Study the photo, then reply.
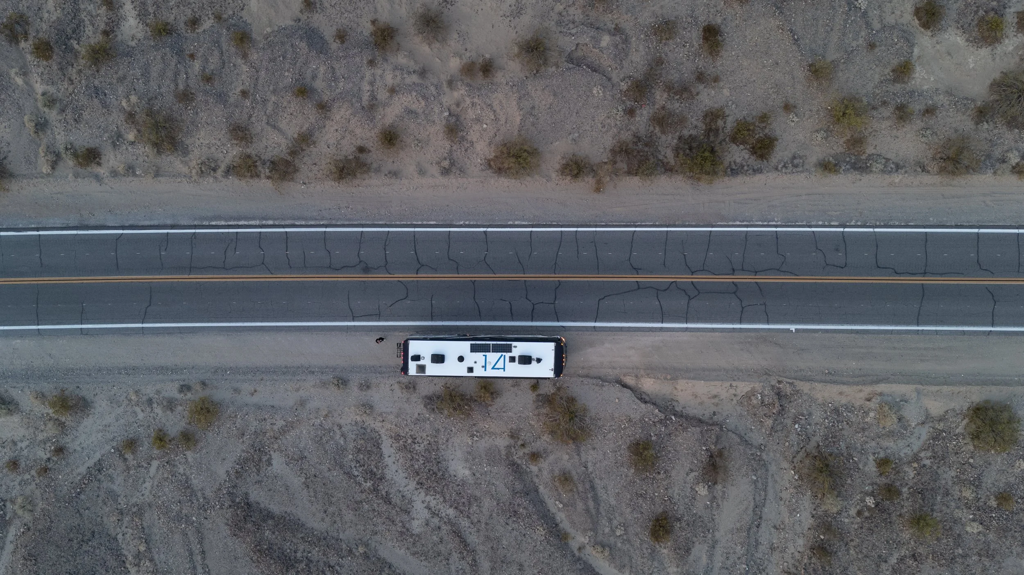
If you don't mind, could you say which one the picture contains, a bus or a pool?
bus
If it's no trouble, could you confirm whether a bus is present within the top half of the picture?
No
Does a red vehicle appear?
No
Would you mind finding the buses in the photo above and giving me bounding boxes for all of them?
[397,335,568,381]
